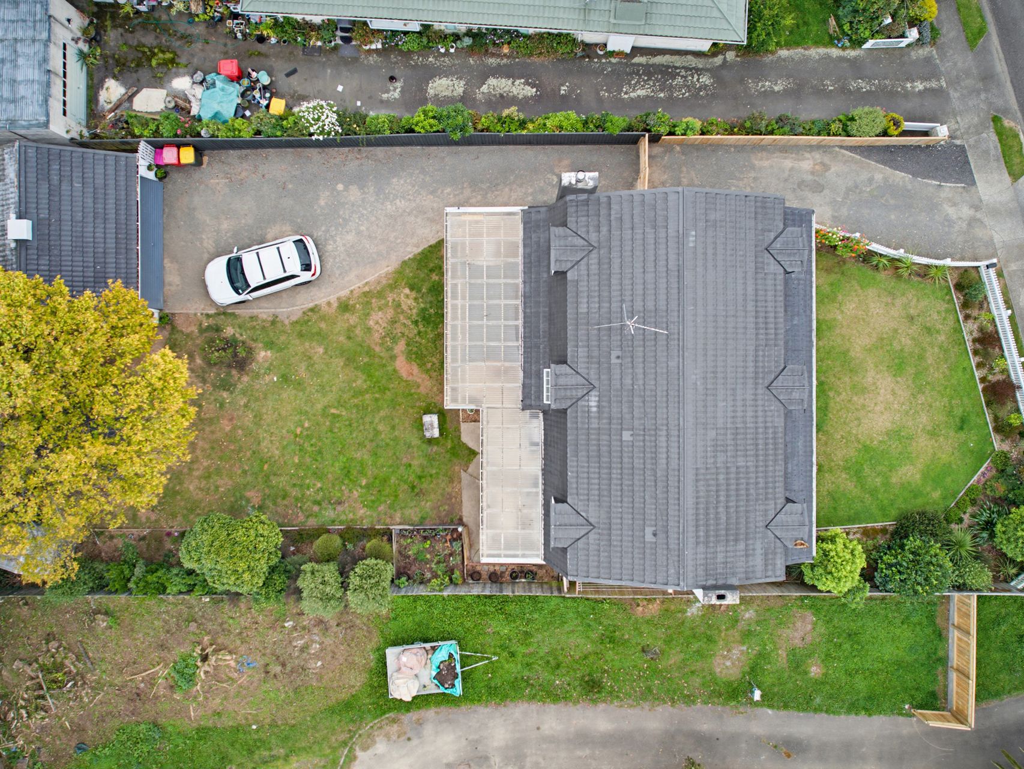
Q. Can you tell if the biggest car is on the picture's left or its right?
left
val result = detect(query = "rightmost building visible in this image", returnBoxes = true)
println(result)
[521,168,819,603]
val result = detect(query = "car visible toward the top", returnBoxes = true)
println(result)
[205,237,322,305]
